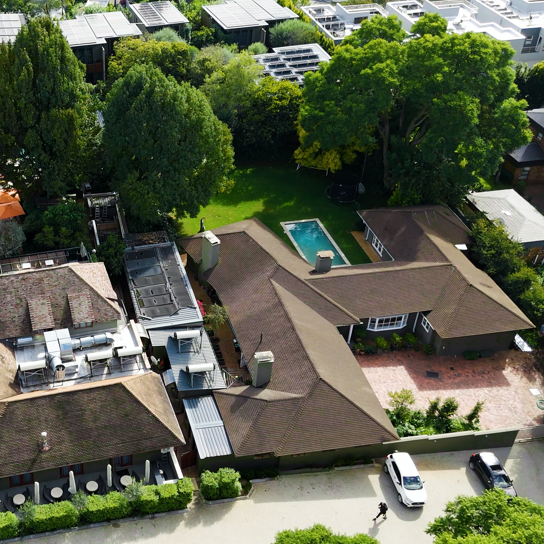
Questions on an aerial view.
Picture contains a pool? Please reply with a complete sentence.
Yes, the frame does contain a pool.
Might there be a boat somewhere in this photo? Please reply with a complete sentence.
No, no boat is visible in the scene.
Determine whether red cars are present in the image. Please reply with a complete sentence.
No, no red car is visible in the view.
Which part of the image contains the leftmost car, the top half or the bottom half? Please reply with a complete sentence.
It is in the bottom half that the leftmost car appears.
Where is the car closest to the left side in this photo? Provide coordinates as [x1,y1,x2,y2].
[382,445,428,506]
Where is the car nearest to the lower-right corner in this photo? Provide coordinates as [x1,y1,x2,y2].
[469,446,526,504]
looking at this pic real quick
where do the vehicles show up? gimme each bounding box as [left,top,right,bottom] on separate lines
[382,445,428,506]
[469,446,526,504]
